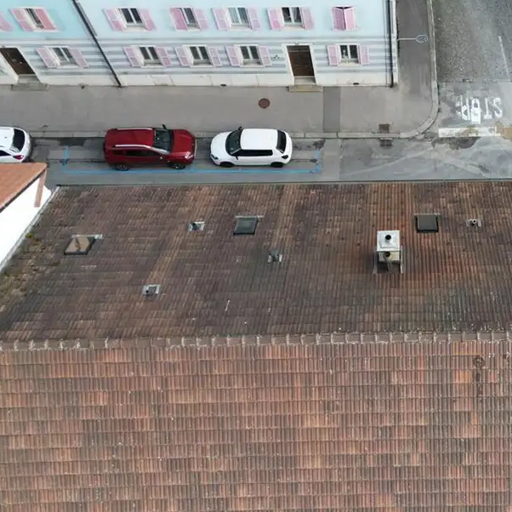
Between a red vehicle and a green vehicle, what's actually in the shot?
red vehicle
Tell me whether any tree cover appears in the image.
No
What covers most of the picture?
buildings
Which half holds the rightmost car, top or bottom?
top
